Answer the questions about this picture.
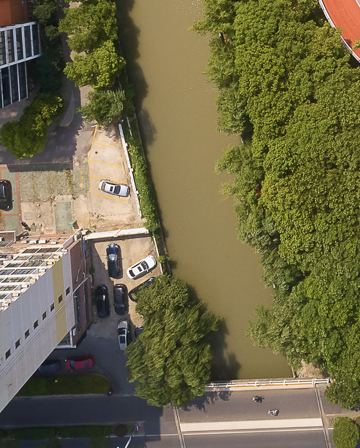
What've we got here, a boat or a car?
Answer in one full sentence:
This aerial view contains a car.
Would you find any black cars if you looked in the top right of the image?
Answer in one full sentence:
No, in the top right of the image there is no black car.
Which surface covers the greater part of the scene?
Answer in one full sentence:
The bulk of the photo consists of trees.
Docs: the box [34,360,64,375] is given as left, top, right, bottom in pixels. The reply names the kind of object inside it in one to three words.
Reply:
car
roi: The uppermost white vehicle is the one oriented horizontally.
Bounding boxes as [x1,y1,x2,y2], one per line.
[97,181,128,198]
